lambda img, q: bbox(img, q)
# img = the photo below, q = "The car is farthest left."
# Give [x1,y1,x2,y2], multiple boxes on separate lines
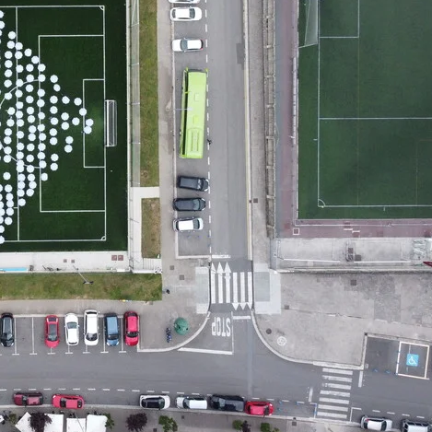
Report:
[0,312,15,348]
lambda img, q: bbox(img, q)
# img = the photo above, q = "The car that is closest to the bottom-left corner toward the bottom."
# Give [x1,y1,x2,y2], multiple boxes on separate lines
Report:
[13,391,43,408]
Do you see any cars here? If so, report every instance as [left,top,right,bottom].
[83,309,99,346]
[65,312,79,346]
[13,391,43,408]
[51,393,84,410]
[175,394,207,411]
[44,313,60,347]
[358,415,393,432]
[138,394,169,411]
[244,399,274,416]
[104,312,120,346]
[176,176,209,192]
[172,217,203,233]
[123,311,139,346]
[172,197,205,213]
[399,419,432,432]
[170,37,203,53]
[0,312,15,348]
[209,394,244,411]
[169,6,202,22]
